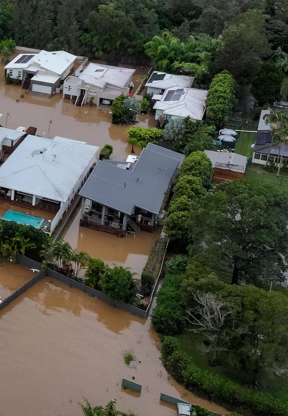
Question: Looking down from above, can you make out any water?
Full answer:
Yes, there is water in the image.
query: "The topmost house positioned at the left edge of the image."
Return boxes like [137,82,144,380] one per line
[4,49,77,97]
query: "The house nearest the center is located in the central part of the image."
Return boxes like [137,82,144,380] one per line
[77,143,187,246]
